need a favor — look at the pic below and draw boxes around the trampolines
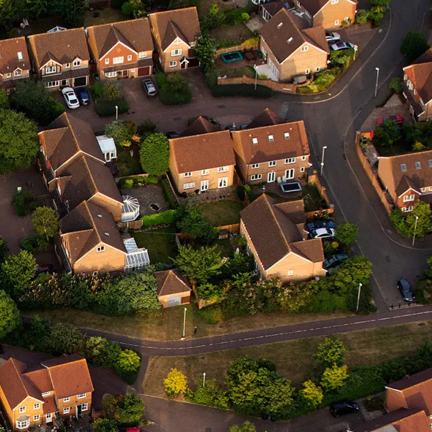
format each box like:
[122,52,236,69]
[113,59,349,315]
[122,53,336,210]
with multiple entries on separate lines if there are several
[280,181,302,194]
[221,50,244,63]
